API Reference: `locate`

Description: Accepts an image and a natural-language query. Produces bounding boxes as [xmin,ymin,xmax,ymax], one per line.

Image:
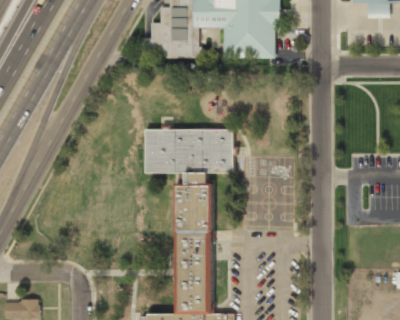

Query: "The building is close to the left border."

[4,299,41,320]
